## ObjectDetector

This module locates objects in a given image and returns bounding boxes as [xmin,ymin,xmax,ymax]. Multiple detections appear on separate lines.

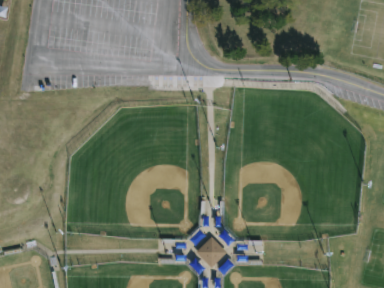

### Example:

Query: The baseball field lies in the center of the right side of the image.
[224,90,366,240]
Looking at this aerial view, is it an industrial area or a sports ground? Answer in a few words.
sports ground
